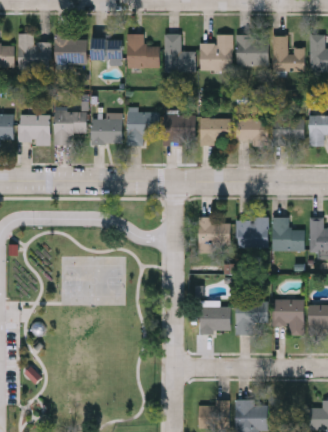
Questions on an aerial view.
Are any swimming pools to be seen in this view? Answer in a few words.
Yes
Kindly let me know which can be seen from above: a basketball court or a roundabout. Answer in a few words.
basketball court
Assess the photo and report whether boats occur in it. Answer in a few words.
No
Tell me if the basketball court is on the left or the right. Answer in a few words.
left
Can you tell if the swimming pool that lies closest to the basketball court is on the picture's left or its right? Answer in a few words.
right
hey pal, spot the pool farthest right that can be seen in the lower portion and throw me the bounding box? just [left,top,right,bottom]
[309,286,328,301]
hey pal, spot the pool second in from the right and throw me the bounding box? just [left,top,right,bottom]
[277,278,305,296]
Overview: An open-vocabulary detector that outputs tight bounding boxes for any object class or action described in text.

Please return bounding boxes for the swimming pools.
[277,278,305,296]
[309,286,328,301]
[98,66,123,84]
[204,280,230,300]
